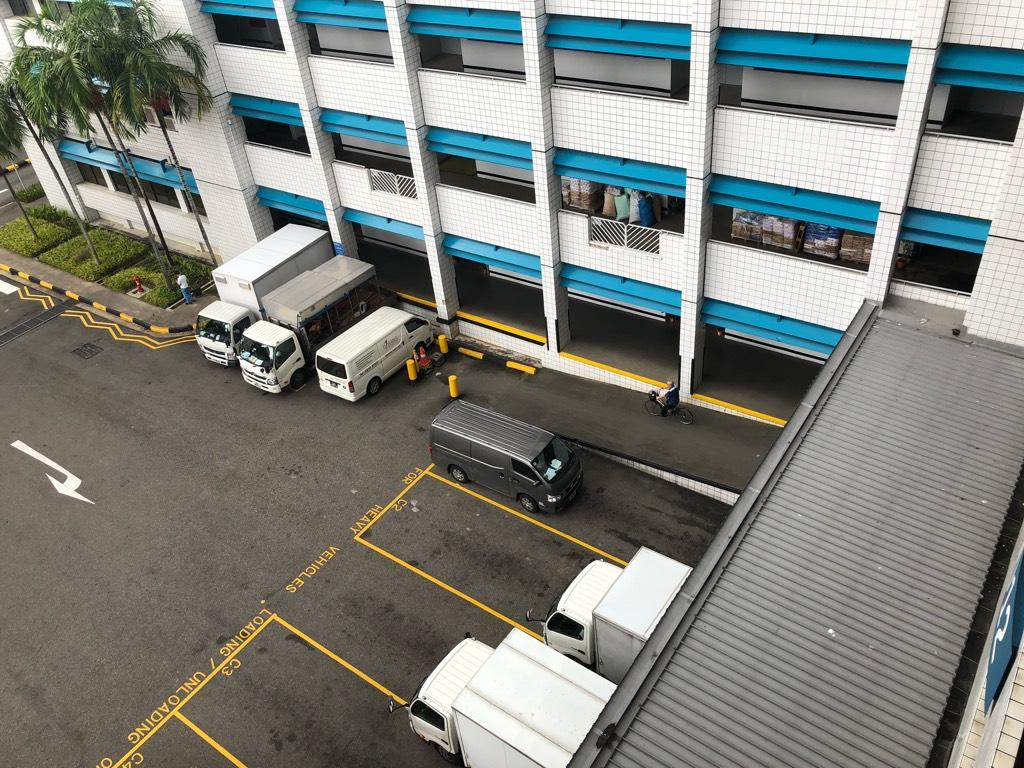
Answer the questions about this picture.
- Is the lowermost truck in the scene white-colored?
Yes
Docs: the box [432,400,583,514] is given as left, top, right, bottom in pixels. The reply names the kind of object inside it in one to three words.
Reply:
van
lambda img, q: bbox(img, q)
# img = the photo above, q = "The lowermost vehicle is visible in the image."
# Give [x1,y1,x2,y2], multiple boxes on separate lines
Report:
[395,626,615,768]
